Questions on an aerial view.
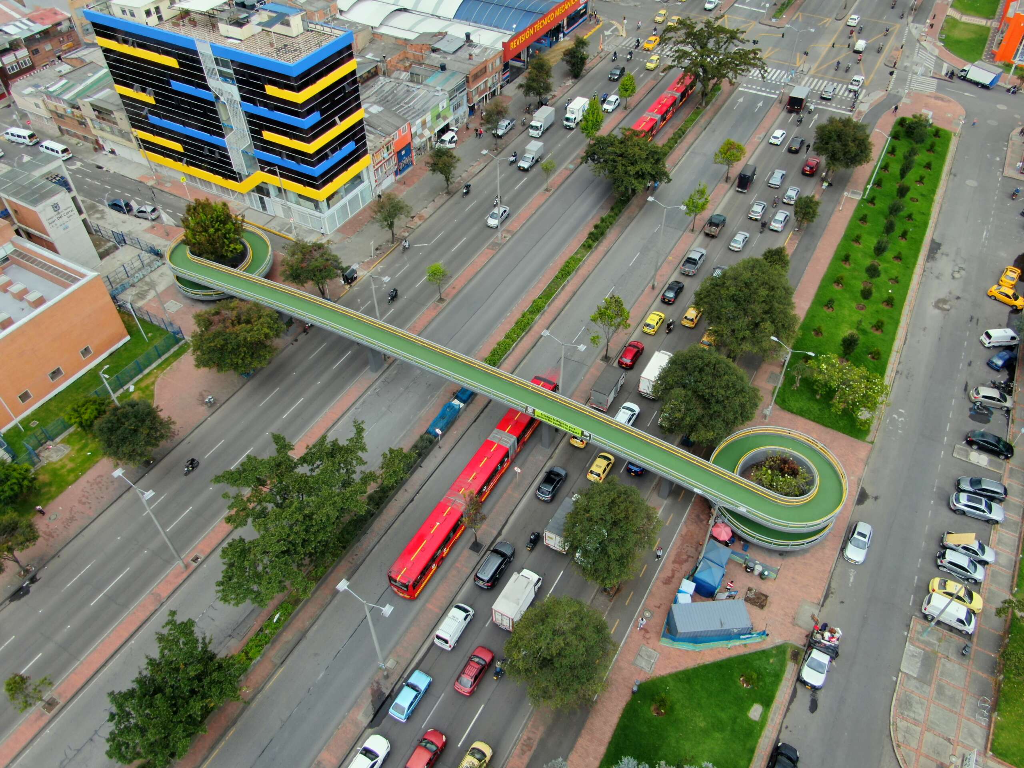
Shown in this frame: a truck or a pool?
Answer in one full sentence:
The one in the frame is a truck.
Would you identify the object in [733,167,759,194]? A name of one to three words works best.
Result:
truck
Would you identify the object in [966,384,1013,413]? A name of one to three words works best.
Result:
car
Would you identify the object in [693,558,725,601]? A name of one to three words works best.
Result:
tent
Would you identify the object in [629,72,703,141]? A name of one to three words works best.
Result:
bus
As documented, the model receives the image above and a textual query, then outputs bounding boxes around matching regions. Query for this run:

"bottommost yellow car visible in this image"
[456,737,492,768]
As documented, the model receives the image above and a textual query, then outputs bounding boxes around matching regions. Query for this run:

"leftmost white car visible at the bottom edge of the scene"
[349,734,390,768]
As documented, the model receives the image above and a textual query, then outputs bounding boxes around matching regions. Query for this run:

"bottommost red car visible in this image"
[401,727,445,768]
